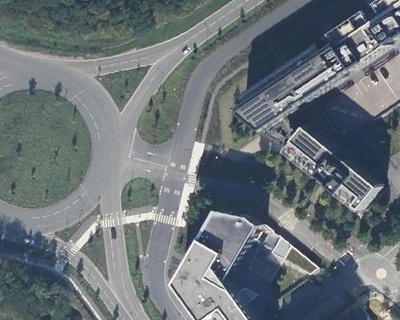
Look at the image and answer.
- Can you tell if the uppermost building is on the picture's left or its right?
right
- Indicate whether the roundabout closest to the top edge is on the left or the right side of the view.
left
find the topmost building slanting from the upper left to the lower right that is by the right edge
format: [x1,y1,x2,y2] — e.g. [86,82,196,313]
[280,126,385,212]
